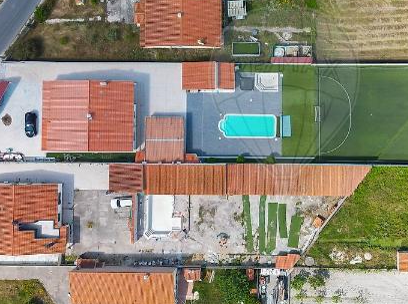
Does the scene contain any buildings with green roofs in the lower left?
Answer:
No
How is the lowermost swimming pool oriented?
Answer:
from side to side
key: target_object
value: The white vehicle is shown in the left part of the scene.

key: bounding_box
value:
[111,197,133,210]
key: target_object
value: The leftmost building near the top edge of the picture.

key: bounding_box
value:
[134,0,222,48]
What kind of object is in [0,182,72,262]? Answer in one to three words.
house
